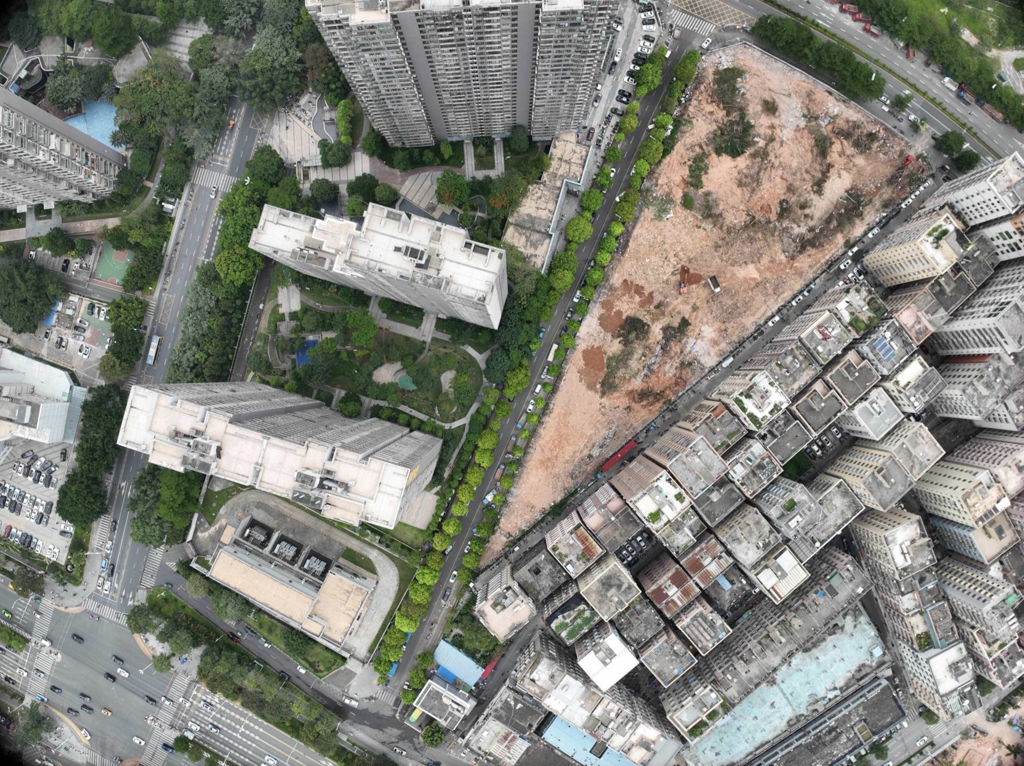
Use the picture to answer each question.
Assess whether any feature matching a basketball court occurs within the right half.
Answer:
No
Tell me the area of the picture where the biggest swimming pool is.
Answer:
top left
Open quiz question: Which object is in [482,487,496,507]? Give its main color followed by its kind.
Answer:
white vehicle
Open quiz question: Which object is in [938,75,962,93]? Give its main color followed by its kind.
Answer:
white vehicle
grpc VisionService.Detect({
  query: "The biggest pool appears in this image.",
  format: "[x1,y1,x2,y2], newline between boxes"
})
[70,100,125,150]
